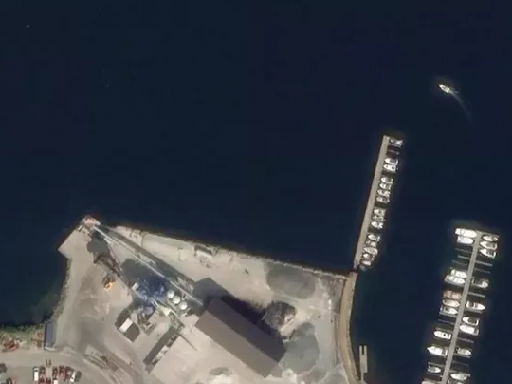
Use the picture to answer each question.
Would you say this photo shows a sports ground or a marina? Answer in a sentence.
This image shows a marina.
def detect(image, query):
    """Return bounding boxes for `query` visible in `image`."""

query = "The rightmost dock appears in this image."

[423,230,500,384]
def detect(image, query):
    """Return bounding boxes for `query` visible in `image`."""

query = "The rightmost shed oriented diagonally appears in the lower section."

[195,296,288,377]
